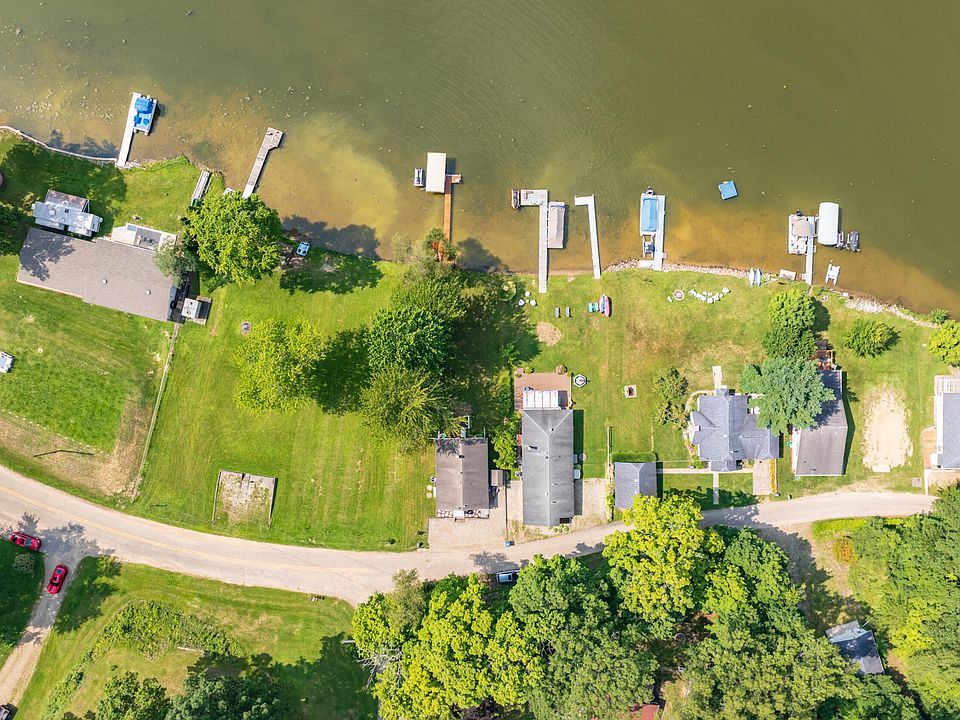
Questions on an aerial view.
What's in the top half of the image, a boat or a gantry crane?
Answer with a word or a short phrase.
boat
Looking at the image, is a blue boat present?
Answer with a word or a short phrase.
Yes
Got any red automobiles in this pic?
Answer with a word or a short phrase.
Yes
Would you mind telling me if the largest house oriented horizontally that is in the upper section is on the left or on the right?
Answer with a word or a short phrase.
left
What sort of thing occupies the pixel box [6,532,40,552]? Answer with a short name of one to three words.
car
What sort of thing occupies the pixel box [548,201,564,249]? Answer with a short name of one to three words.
boat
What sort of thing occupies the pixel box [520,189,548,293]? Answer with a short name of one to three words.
pier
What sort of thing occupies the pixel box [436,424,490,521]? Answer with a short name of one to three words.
house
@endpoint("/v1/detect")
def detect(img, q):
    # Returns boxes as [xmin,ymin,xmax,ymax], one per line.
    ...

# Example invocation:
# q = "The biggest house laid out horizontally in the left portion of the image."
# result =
[18,230,192,324]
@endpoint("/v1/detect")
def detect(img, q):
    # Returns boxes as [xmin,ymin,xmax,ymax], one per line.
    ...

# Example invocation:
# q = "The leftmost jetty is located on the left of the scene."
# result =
[116,93,140,167]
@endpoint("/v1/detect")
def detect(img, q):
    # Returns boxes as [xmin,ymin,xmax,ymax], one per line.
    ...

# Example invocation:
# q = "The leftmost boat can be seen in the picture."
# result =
[133,95,160,137]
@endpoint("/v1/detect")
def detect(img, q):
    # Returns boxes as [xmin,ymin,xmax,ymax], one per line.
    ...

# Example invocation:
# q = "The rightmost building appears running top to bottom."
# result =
[921,376,960,469]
